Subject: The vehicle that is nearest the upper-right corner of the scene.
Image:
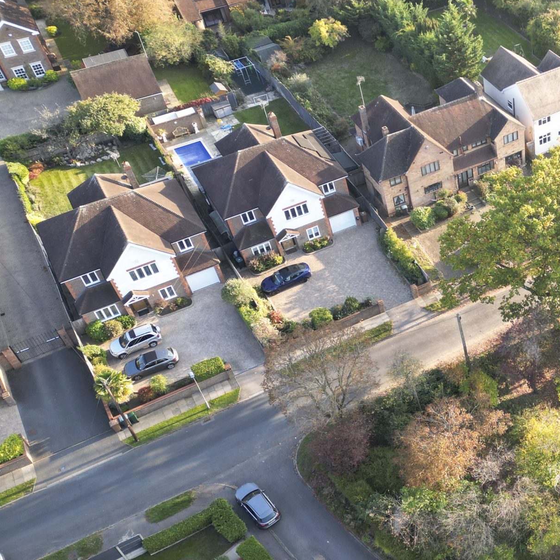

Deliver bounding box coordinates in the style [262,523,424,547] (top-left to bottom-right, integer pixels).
[258,260,314,297]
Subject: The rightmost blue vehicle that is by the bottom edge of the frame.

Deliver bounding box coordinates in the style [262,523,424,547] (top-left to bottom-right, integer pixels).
[236,481,279,536]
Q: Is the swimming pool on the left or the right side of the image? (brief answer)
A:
left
